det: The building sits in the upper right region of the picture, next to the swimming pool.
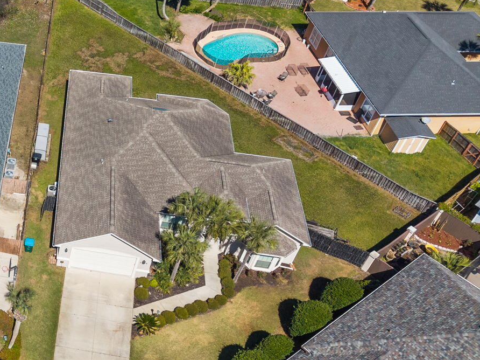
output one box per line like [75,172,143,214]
[302,11,480,137]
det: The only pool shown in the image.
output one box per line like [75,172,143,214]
[192,28,290,70]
